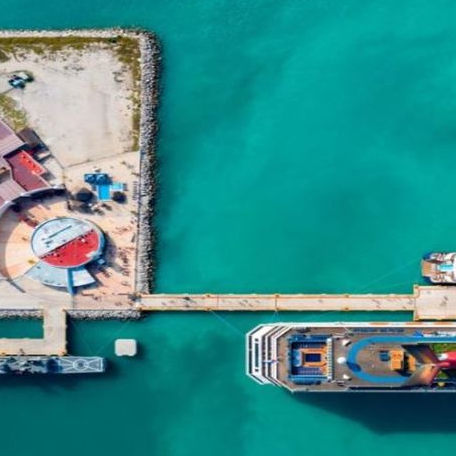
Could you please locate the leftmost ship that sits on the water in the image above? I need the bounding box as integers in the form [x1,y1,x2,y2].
[0,356,105,375]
